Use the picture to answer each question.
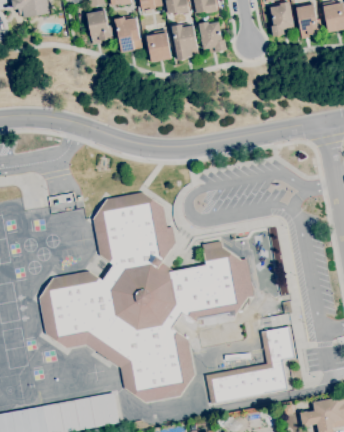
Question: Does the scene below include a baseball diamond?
No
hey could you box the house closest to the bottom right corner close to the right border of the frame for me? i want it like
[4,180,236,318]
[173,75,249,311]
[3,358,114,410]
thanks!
[297,398,344,432]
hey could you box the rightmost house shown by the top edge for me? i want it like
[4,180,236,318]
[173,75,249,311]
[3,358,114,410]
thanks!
[322,2,344,34]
